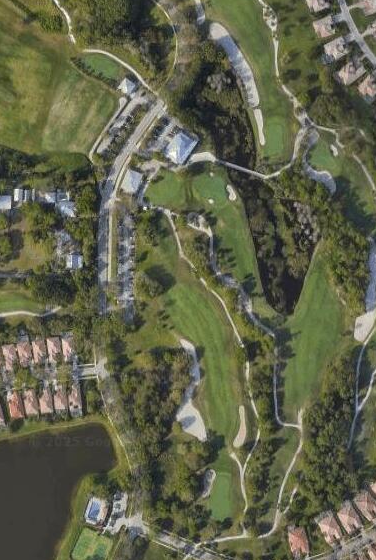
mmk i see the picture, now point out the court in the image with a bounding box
[73,529,111,560]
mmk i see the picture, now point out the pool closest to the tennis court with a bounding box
[86,496,108,526]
